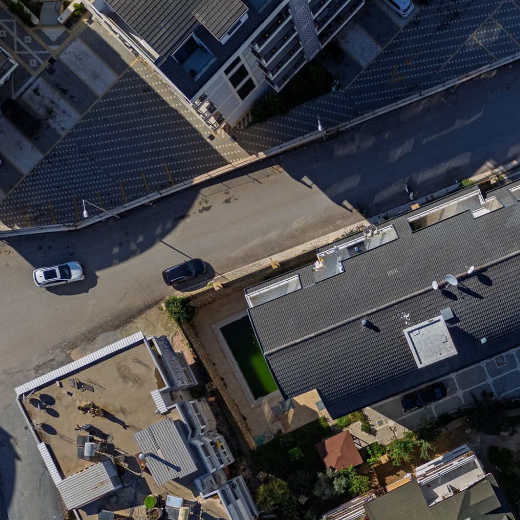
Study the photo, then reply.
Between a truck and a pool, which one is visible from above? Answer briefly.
pool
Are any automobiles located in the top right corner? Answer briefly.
Yes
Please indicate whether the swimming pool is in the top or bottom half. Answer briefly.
bottom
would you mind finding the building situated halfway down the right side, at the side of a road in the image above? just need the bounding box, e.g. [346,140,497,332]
[243,179,520,420]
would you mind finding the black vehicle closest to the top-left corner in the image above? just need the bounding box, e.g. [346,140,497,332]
[2,99,45,140]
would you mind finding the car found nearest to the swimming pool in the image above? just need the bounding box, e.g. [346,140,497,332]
[160,257,207,285]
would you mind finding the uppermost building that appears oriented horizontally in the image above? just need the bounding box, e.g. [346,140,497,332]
[78,0,373,142]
